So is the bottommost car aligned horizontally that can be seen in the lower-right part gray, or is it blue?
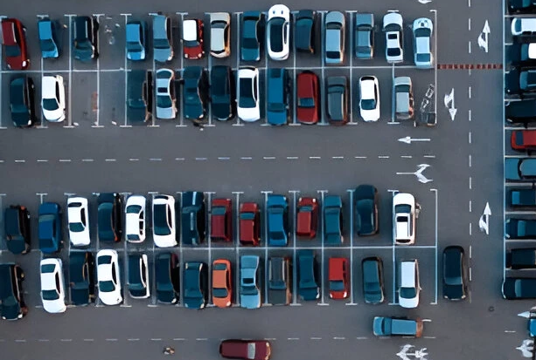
blue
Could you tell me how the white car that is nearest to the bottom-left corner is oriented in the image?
up and down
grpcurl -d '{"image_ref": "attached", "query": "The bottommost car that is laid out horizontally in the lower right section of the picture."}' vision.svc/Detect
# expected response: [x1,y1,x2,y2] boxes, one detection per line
[373,315,422,339]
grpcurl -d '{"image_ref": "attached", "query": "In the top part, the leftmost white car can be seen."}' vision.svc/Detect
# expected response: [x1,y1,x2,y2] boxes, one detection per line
[39,75,65,122]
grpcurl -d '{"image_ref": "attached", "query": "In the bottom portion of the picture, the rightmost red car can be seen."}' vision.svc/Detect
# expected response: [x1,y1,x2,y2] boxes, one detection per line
[326,258,348,299]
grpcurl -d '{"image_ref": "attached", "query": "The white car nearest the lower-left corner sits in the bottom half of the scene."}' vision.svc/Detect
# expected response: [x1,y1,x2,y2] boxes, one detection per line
[36,258,66,313]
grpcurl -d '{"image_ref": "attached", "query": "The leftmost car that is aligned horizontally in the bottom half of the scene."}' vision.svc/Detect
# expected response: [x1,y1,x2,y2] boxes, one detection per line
[220,339,272,360]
